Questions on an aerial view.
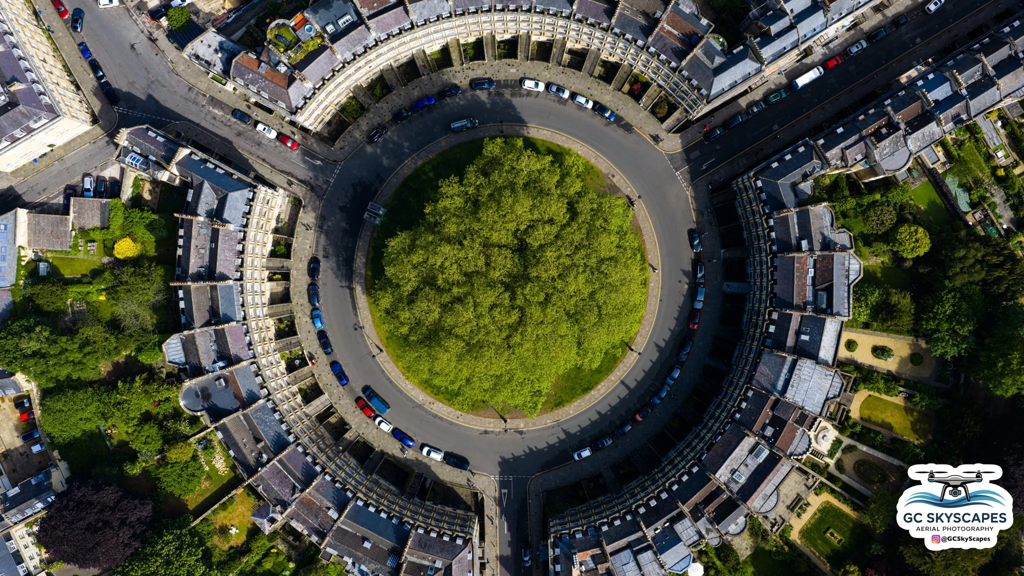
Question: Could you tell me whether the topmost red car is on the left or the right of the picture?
left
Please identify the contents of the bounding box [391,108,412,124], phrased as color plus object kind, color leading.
black car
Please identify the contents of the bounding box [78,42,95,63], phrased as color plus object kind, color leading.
blue car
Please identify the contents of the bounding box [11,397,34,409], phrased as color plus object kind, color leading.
black vehicle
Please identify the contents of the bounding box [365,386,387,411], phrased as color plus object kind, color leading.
blue vehicle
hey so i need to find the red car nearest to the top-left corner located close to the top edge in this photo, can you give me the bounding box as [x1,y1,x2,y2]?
[51,0,71,20]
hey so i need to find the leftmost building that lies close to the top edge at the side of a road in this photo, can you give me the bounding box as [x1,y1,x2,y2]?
[0,0,101,183]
